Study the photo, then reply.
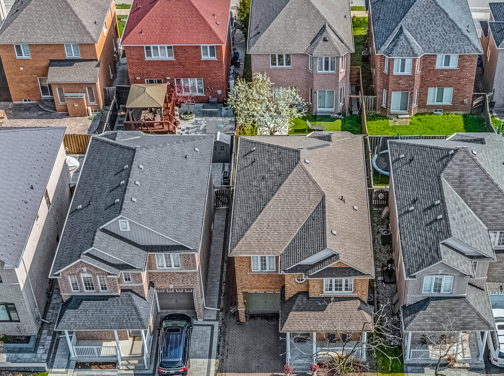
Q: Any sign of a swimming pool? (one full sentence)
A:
No, this view has no swimming pool in it.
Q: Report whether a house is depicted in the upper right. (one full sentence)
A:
Yes, there is a house in the upper right.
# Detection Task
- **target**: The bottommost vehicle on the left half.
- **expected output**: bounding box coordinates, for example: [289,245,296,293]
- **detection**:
[155,318,195,376]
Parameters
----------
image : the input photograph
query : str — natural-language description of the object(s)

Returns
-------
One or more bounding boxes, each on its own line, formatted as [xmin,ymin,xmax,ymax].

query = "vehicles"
[483,312,504,371]
[155,318,195,376]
